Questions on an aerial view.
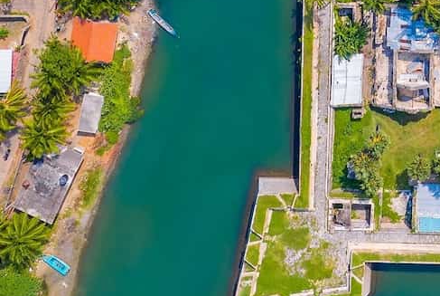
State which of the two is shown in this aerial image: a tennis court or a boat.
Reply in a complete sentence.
Visible in the photo is a boat.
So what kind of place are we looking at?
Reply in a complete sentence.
This image shows a residential area.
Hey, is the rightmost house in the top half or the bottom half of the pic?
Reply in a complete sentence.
It is in the bottom half that the rightmost house appears.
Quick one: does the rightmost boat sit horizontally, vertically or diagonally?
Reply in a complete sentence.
The rightmost boat runs diagonally in the image.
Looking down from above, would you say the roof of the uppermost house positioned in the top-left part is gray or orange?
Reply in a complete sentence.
The roof of the uppermost house positioned in the top-left part is orange.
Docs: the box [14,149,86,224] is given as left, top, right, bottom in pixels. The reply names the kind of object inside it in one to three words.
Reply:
house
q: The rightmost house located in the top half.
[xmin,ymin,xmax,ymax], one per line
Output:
[372,7,440,116]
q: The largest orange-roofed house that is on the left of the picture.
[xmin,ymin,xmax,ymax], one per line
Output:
[72,17,120,63]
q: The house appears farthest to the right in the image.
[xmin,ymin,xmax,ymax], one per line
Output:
[416,180,440,231]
